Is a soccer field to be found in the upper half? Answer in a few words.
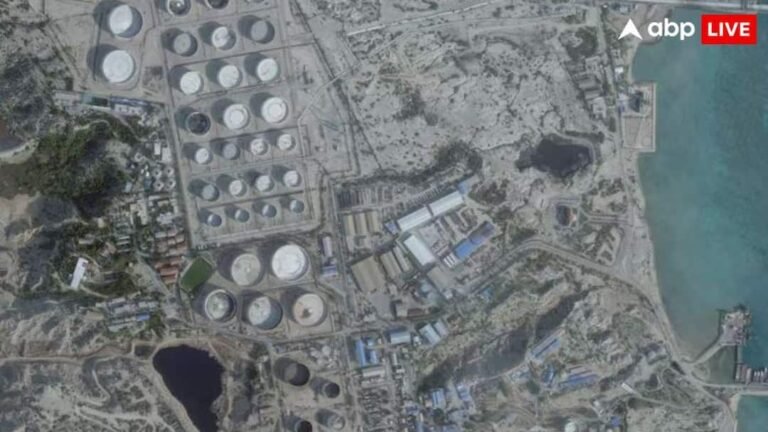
No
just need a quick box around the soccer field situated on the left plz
[178,254,215,294]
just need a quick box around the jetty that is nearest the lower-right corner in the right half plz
[713,310,748,350]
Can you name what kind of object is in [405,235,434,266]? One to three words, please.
building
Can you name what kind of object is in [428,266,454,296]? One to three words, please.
building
